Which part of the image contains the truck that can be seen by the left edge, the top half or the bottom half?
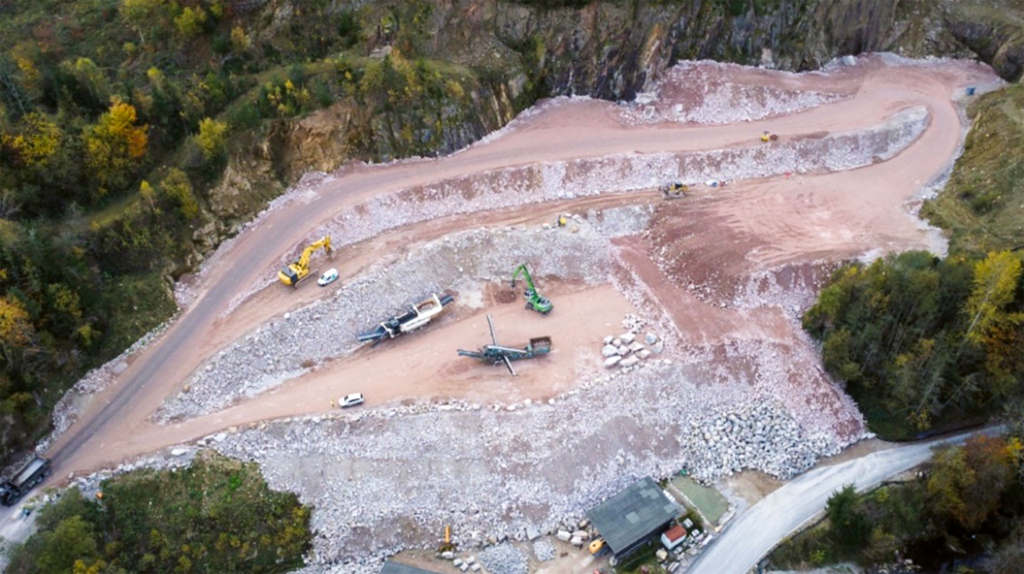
bottom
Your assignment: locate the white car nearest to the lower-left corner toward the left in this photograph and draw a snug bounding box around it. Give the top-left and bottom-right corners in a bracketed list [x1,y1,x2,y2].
[338,393,364,408]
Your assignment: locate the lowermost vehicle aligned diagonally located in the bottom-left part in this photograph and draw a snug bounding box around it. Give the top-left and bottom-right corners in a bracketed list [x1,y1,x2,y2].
[0,448,52,505]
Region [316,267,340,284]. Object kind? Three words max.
vehicle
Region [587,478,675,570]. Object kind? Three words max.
shed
